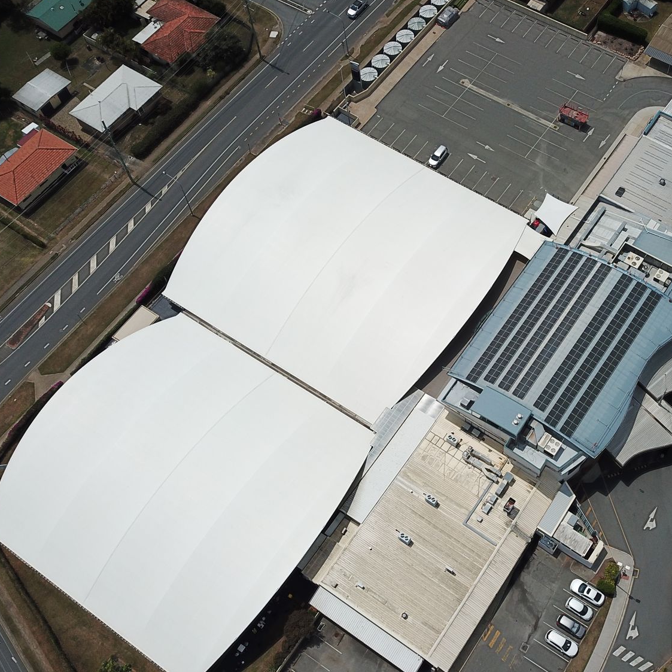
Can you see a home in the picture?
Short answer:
Yes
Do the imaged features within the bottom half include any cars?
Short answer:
Yes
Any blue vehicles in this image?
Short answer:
No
